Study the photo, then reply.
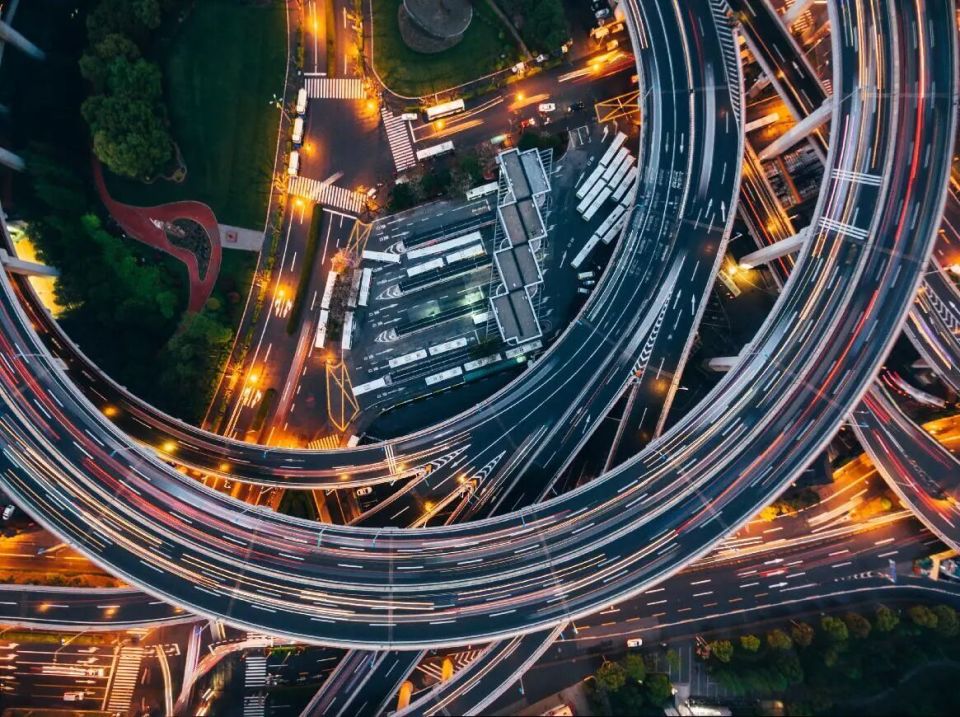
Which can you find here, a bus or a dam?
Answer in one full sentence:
Of the two, only a bus appears.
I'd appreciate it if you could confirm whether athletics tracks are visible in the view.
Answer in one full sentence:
No, the scene contains no athletics track.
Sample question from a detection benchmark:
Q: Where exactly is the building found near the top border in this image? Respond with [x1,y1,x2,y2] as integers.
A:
[397,0,472,55]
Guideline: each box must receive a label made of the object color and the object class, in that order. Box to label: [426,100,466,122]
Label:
white bus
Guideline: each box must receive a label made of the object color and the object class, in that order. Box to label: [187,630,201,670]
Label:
white vehicle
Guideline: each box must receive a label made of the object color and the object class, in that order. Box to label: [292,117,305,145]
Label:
white vehicle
